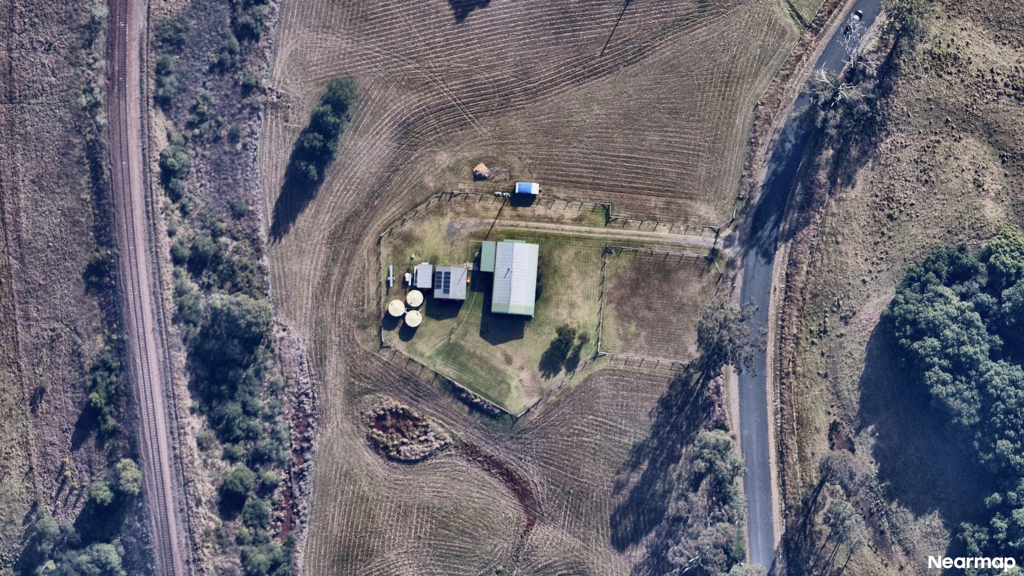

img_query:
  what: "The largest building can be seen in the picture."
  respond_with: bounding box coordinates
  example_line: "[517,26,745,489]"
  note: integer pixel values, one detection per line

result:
[480,239,543,318]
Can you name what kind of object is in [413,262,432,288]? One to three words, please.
shed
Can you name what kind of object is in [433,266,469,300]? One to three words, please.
shed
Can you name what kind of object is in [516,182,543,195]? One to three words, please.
vehicle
